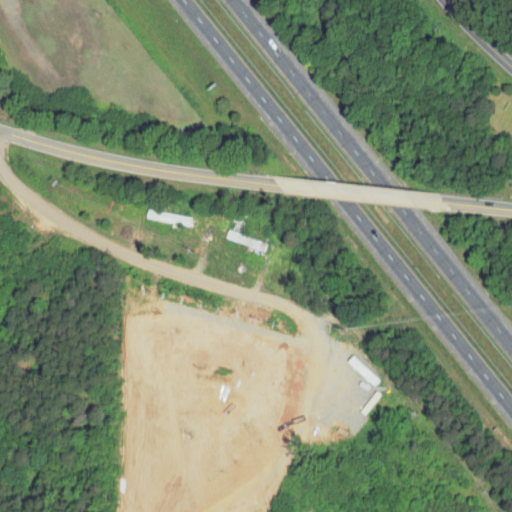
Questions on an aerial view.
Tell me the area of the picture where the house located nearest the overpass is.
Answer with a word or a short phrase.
center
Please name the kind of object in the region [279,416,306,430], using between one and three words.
vehicle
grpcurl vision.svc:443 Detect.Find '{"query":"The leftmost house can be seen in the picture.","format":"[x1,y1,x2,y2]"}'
[146,208,194,228]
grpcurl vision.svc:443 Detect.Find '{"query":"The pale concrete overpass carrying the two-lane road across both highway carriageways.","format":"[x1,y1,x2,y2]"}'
[272,176,442,212]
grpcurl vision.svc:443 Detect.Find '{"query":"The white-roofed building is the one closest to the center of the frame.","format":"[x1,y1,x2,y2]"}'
[226,218,268,252]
